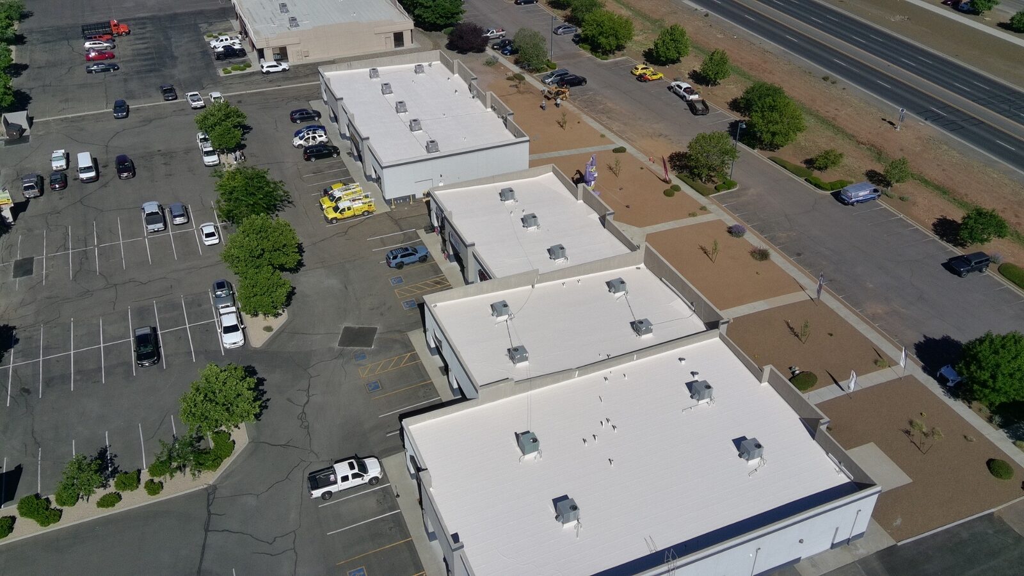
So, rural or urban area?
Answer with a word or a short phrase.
urban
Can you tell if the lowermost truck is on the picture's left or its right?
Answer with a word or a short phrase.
left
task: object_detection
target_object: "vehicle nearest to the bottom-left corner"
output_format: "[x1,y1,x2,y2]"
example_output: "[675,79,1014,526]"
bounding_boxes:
[132,323,162,369]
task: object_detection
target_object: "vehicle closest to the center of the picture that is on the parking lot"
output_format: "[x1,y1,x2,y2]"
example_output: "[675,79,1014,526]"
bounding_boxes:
[384,245,431,269]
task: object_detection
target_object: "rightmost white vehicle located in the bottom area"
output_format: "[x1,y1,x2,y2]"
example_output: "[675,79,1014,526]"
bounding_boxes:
[304,457,385,504]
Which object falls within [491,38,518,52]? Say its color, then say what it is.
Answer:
black car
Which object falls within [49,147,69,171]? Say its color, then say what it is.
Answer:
white vehicle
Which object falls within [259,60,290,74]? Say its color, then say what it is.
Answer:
white car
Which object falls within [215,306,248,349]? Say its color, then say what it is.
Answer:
white truck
